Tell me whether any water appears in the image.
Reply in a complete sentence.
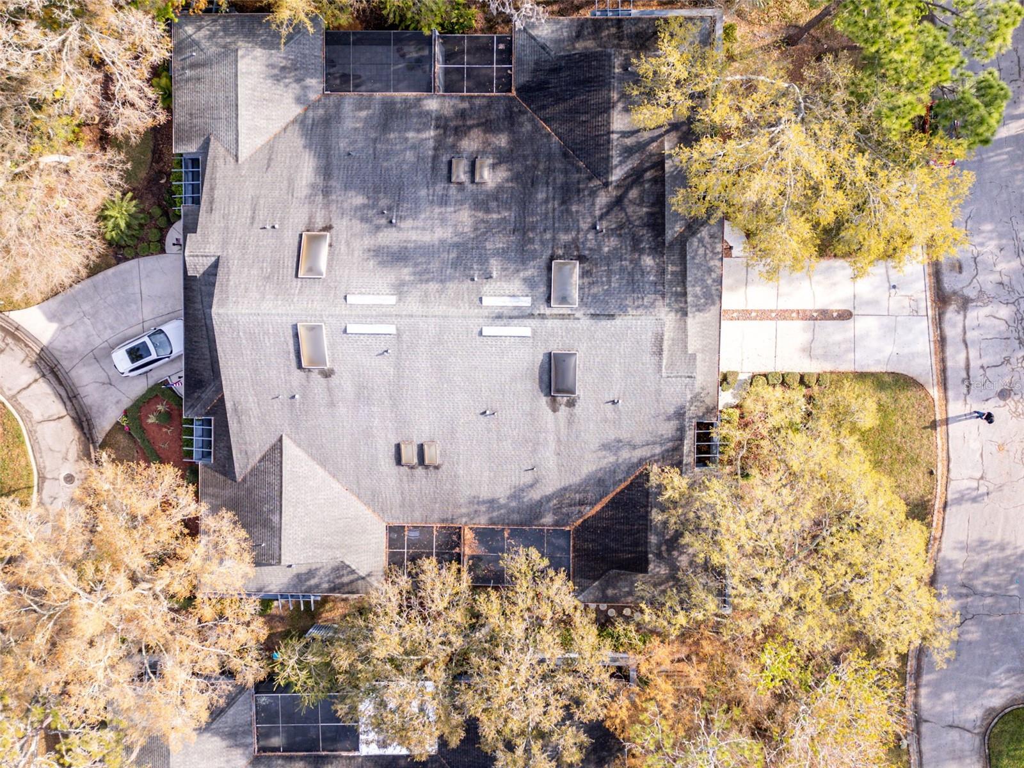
No, no water is visible.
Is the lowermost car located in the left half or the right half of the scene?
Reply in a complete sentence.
You can find the lowermost car on the left side of the picture.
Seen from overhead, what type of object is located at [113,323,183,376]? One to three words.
car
